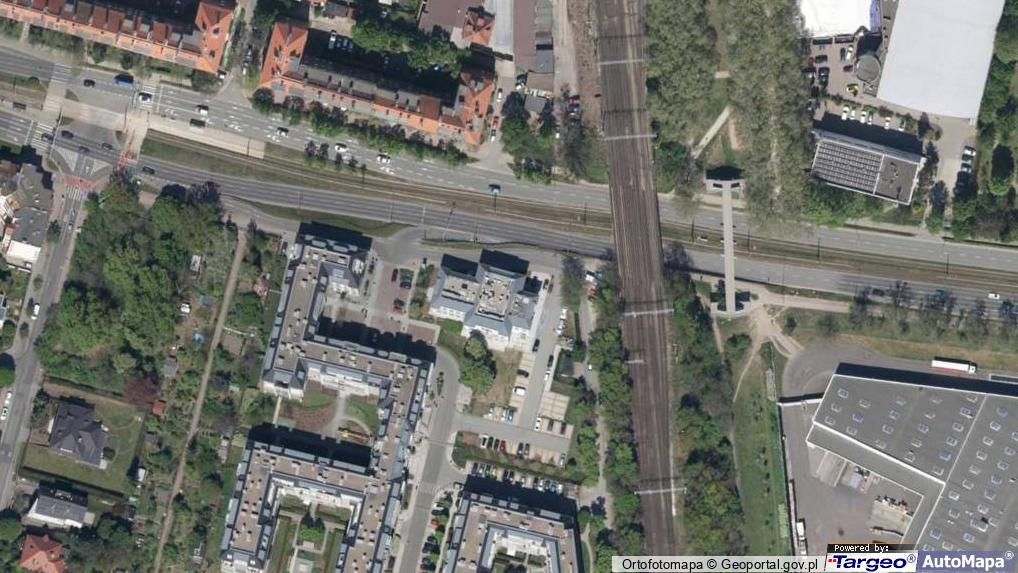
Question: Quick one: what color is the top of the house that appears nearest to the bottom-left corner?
red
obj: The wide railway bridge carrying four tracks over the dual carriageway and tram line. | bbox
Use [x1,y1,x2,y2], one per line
[608,178,663,273]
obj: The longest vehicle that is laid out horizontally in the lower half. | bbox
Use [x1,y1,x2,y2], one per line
[932,357,977,374]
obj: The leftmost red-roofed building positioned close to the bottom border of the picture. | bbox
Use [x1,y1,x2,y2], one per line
[20,534,66,573]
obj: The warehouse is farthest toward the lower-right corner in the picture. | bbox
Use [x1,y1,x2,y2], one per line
[806,374,1018,573]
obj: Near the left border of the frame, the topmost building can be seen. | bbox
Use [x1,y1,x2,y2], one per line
[0,0,237,86]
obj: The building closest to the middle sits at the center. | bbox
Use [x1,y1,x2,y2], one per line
[430,263,539,346]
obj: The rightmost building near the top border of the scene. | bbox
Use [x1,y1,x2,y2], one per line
[876,0,1001,127]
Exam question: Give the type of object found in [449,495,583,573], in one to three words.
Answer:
building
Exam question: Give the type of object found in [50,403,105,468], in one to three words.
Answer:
house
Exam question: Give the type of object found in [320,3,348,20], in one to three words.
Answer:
building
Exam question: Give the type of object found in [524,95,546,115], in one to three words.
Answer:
shed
